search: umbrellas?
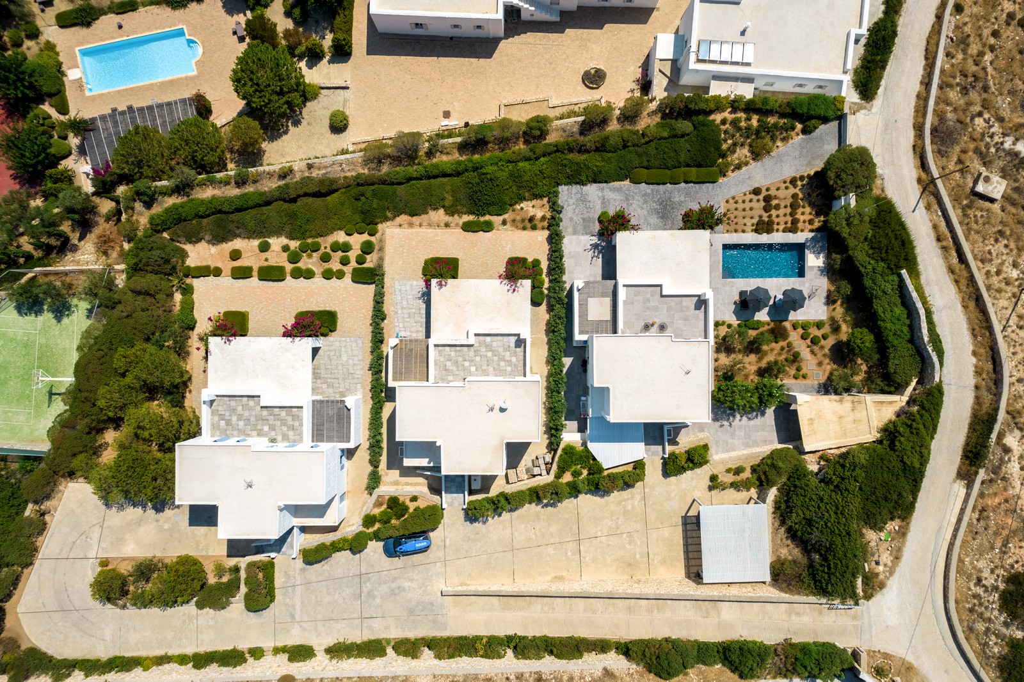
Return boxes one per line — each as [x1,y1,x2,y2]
[747,287,771,312]
[782,288,806,312]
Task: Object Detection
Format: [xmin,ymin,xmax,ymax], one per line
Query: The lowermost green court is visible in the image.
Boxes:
[0,267,123,442]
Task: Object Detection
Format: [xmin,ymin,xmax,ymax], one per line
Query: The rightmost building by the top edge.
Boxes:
[647,0,868,108]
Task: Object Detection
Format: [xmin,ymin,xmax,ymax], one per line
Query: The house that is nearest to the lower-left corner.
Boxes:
[175,337,363,557]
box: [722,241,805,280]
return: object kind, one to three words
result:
swimming pool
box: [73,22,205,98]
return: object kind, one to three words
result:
swimming pool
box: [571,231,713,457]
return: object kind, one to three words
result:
house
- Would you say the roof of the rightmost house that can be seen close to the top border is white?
Yes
